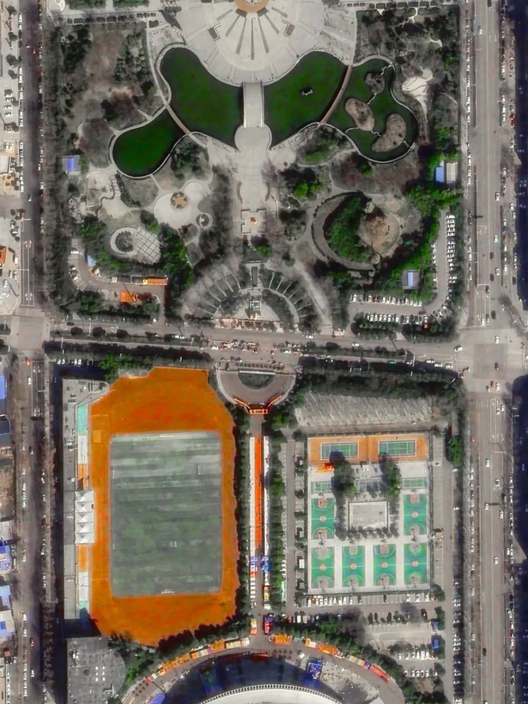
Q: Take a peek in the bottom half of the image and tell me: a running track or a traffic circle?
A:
running track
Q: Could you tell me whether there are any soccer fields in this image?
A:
Yes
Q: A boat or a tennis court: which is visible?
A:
tennis court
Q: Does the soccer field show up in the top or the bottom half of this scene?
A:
bottom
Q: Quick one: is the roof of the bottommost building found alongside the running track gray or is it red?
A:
gray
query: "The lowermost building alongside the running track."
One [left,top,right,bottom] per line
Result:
[66,638,125,704]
